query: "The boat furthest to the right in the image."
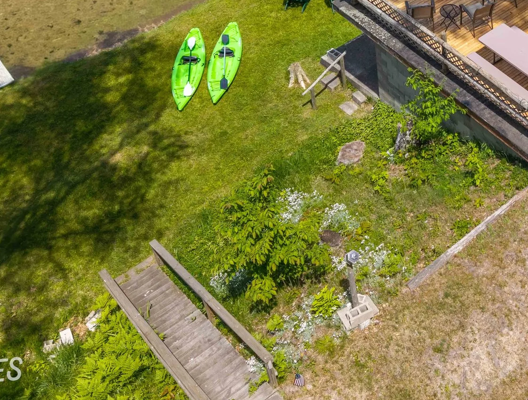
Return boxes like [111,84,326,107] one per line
[208,22,243,108]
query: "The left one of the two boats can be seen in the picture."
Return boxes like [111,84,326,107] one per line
[171,28,206,115]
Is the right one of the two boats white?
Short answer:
No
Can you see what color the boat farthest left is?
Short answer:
green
